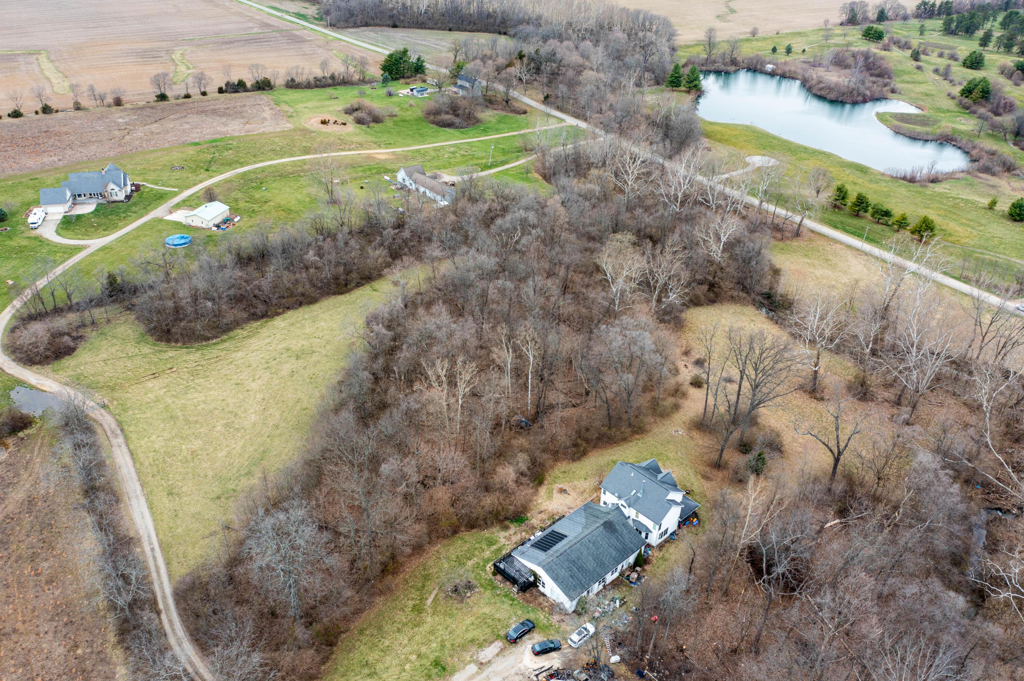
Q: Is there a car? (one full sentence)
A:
Yes, the image includes a car.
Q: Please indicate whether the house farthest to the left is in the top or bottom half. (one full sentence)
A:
The house farthest to the left sits in the top half of the picture.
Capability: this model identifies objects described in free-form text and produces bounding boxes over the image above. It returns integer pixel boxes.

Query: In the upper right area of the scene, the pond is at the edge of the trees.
[696,69,969,174]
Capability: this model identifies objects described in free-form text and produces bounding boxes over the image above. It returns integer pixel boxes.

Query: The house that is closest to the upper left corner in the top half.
[39,162,132,212]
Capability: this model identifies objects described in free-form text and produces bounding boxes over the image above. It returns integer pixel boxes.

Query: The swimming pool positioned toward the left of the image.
[162,232,195,249]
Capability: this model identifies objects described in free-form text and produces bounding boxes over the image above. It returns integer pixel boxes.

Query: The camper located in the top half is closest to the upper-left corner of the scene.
[30,207,46,226]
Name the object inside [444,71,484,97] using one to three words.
house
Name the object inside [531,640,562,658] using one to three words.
car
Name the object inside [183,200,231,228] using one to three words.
barn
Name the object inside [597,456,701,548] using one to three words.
house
